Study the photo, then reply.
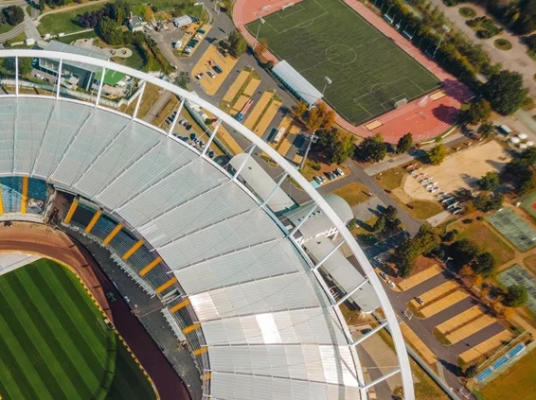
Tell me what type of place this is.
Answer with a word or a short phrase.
sports ground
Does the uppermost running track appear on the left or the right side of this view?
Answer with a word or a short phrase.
right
